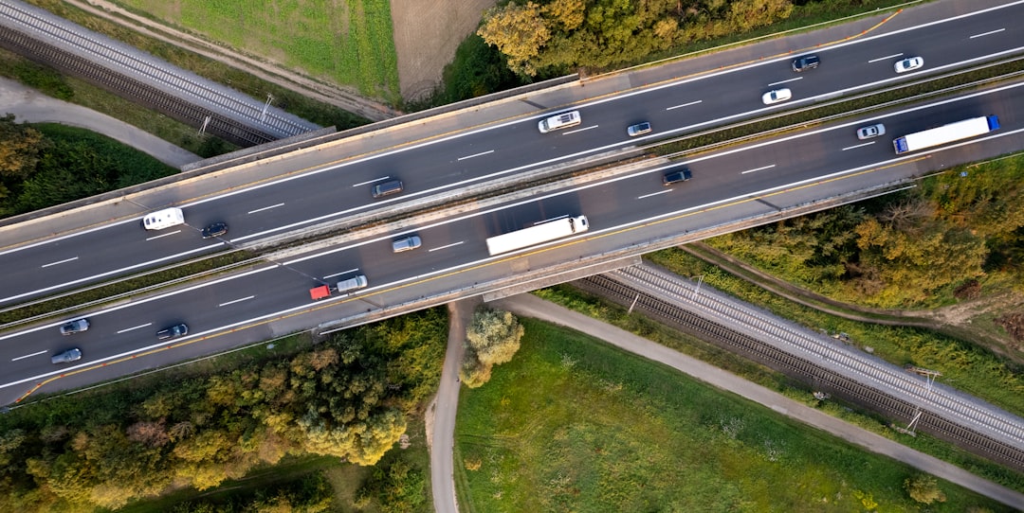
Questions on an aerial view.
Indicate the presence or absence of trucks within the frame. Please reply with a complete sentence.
Yes, you can see a truck in this photo.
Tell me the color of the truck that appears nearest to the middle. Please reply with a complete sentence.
The truck that appears nearest to the middle looks white in the image.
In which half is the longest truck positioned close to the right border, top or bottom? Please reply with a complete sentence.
You can find the longest truck positioned close to the right border in the top half.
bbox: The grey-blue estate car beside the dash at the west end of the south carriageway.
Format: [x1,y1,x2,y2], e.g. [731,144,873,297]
[51,347,83,364]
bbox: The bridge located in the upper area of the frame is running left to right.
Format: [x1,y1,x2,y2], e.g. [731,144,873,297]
[0,69,917,337]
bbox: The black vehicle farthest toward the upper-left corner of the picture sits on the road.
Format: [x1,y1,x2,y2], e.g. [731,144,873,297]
[201,221,229,237]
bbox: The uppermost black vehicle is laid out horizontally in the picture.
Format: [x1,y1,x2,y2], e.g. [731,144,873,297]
[790,54,819,71]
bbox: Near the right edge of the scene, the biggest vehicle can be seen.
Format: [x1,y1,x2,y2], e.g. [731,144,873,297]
[895,114,1002,154]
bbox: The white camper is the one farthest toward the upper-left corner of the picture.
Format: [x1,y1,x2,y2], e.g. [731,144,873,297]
[144,208,186,230]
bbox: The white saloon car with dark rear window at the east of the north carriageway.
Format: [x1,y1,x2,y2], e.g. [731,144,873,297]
[892,57,923,73]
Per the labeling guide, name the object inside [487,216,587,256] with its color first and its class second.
white truck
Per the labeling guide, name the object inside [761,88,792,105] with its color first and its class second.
white car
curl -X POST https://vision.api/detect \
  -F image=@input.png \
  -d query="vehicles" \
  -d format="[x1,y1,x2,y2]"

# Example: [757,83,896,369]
[892,57,923,73]
[662,167,691,184]
[201,221,229,237]
[373,180,404,197]
[761,88,792,105]
[539,110,582,132]
[393,235,422,252]
[895,114,1002,154]
[626,121,652,136]
[51,347,83,364]
[790,54,819,71]
[144,208,186,230]
[337,275,368,292]
[854,123,884,139]
[487,216,587,256]
[60,318,91,335]
[157,324,189,341]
